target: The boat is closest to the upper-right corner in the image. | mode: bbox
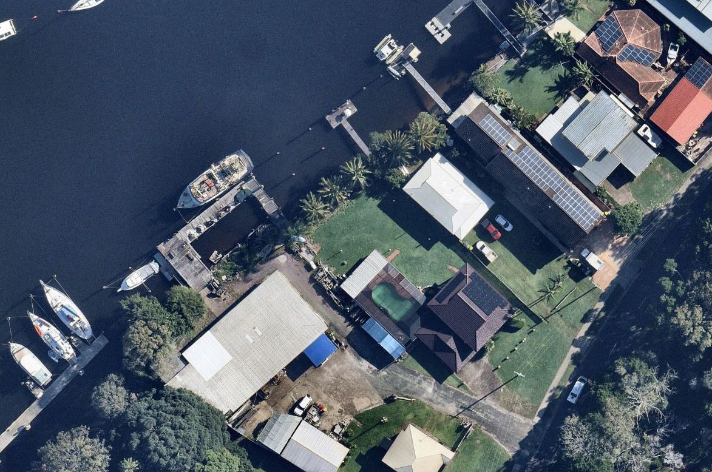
[667,41,679,64]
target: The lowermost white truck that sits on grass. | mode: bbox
[475,239,498,263]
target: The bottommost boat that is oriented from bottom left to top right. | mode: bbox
[117,260,162,291]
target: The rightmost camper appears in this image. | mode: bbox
[638,124,662,148]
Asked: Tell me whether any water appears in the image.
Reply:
Yes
